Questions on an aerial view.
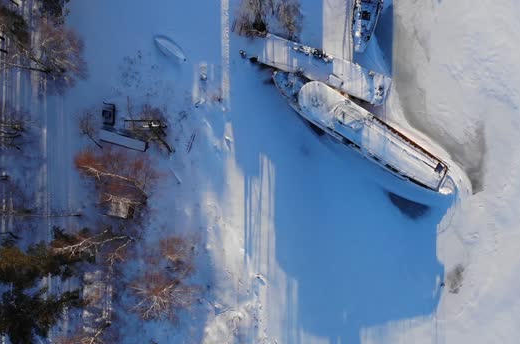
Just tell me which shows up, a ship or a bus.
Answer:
ship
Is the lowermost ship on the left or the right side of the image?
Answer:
right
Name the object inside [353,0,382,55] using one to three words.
boat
